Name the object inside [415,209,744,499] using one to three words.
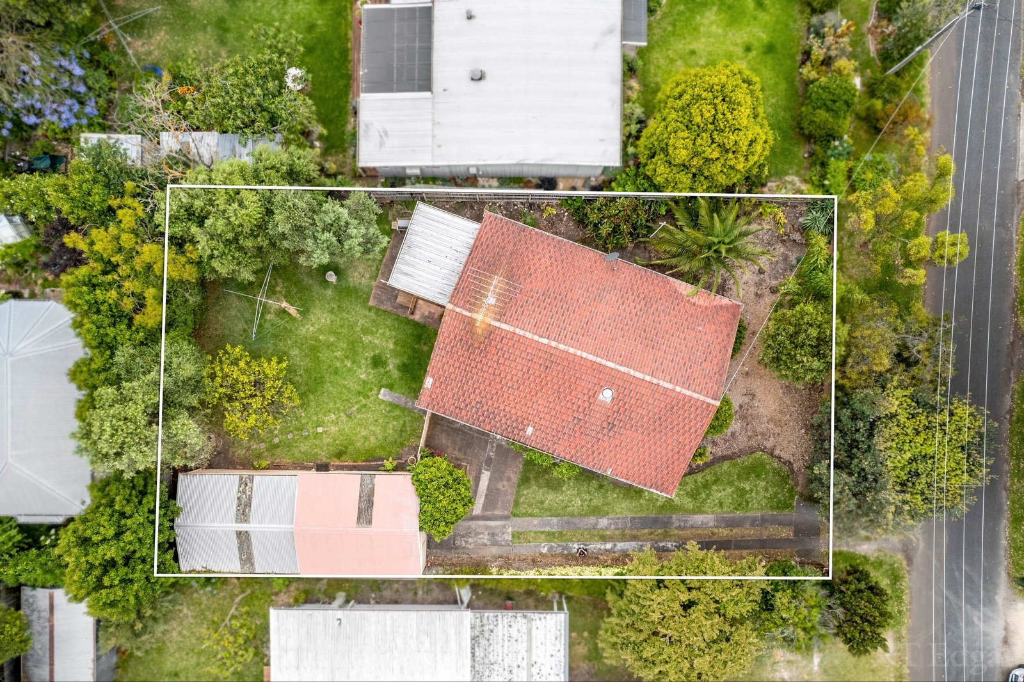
house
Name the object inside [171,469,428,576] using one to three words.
building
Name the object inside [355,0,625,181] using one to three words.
house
